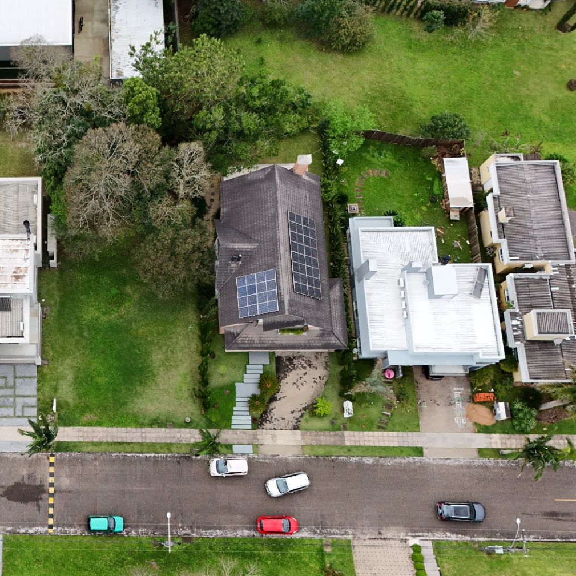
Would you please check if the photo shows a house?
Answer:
Yes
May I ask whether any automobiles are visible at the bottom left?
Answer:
Yes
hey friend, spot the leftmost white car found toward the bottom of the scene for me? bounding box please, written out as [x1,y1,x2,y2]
[208,457,247,478]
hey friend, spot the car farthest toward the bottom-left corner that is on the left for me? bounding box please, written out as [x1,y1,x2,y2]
[87,515,124,535]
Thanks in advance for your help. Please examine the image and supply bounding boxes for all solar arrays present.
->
[236,269,279,318]
[287,211,321,300]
